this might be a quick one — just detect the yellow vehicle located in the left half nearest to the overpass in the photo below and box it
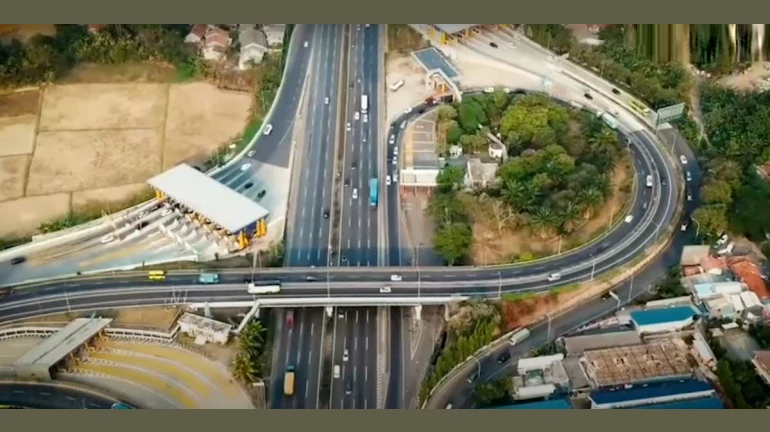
[147,268,167,280]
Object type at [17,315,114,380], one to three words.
toll station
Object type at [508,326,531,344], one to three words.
vehicle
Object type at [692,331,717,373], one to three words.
shed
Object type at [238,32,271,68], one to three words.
house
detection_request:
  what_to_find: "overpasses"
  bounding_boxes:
[190,264,459,313]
